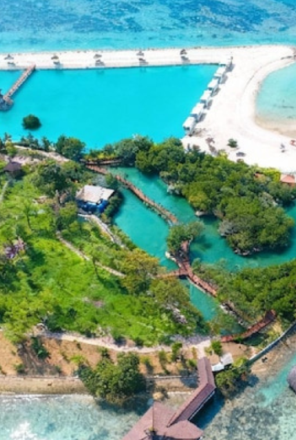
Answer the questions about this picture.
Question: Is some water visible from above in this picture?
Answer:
Yes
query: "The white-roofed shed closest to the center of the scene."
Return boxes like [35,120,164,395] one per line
[74,187,115,216]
